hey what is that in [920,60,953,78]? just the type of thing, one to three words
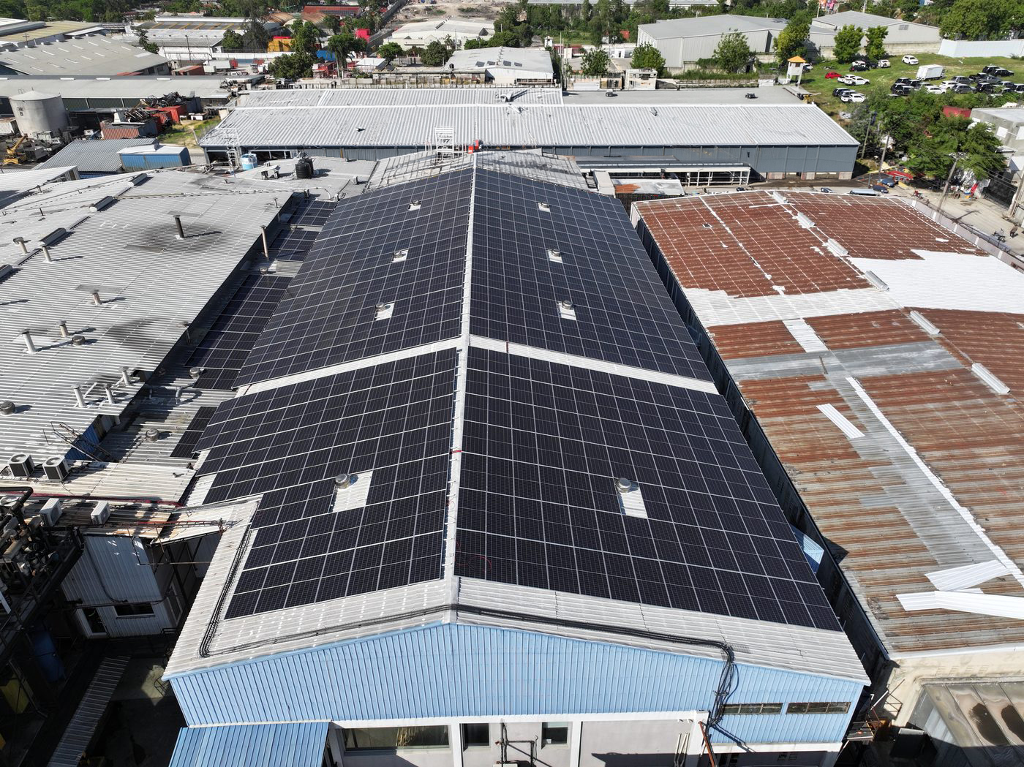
vehicle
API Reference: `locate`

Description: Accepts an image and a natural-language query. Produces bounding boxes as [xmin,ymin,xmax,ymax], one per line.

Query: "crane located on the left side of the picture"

[0,126,35,164]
